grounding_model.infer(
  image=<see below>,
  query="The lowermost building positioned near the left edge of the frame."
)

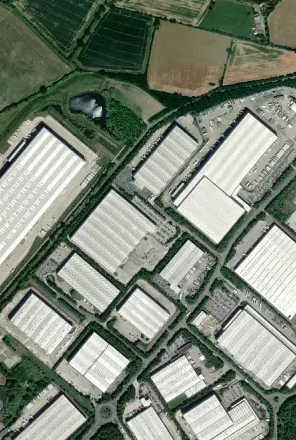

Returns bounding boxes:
[14,395,87,440]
